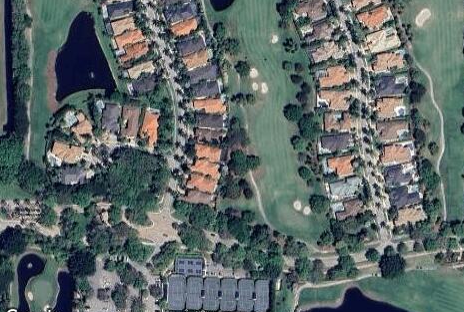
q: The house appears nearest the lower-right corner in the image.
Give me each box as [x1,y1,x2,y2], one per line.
[394,204,430,226]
